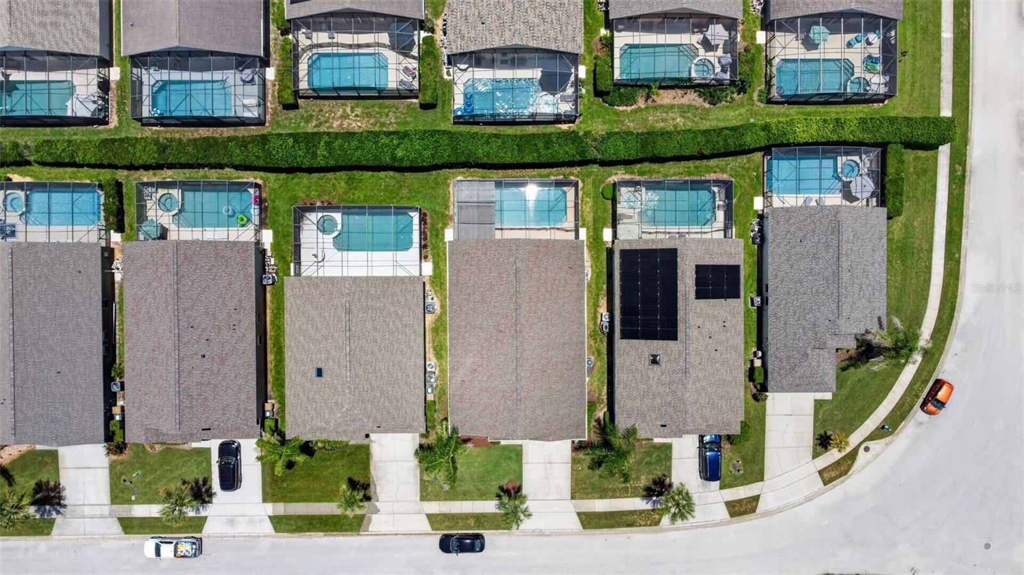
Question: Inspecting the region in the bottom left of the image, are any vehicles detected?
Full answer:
Yes, a vehicle appears in the bottom left of the image.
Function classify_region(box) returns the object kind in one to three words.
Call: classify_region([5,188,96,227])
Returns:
swimming pool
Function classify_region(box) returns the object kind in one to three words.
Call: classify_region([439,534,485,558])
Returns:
car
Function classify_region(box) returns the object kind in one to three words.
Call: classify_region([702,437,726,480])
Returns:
car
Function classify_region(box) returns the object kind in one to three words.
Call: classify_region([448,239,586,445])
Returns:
house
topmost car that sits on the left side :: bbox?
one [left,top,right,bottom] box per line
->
[215,443,241,489]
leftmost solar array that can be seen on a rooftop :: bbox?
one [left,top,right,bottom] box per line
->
[620,249,678,342]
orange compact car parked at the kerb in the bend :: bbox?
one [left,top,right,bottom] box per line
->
[921,377,958,416]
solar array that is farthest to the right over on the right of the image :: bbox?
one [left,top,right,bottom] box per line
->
[696,264,741,299]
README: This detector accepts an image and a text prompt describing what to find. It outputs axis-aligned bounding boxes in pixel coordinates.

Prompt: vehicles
[702,437,726,480]
[215,443,241,489]
[921,377,958,416]
[439,534,485,558]
[142,538,201,564]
